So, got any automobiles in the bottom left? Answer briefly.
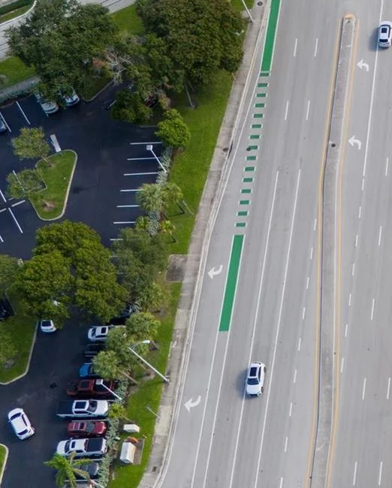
Yes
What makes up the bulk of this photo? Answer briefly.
paved ground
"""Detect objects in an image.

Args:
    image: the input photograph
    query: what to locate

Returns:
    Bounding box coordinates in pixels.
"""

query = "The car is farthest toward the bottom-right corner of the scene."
[246,364,265,396]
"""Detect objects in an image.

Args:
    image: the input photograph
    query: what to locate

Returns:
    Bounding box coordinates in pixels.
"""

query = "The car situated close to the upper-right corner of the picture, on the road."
[379,22,392,47]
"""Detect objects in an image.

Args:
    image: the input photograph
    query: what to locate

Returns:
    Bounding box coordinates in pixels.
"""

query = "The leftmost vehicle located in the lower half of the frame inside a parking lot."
[11,408,33,439]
